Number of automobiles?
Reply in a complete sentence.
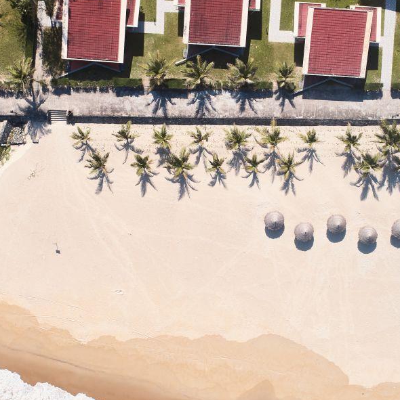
There are no automobiles in this view.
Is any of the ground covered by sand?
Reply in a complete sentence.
Yes, some sand is visible.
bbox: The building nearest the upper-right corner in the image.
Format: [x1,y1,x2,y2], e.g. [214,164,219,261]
[290,1,382,98]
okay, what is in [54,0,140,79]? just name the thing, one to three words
house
